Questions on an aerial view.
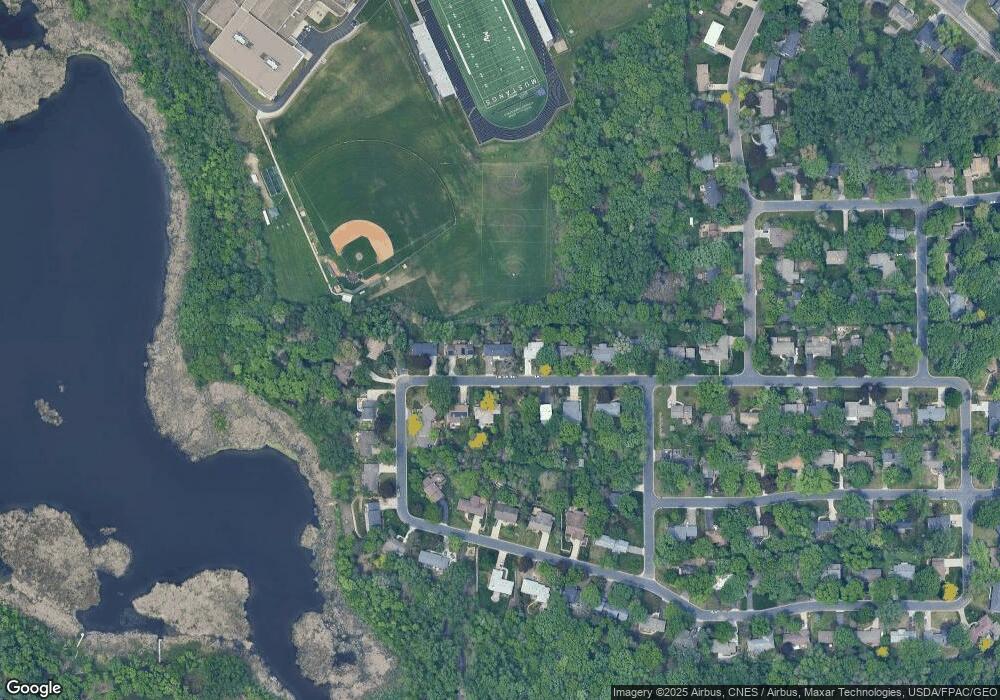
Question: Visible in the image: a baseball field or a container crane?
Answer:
baseball field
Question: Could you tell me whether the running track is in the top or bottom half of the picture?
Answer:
top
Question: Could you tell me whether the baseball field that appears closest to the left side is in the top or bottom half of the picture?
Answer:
top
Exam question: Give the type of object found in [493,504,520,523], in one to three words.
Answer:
house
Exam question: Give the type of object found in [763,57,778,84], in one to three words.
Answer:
house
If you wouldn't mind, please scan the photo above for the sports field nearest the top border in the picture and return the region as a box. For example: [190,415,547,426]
[428,0,549,128]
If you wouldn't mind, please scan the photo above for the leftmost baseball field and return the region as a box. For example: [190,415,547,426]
[292,141,456,296]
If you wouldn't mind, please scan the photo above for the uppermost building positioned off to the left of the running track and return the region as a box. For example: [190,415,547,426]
[198,0,347,100]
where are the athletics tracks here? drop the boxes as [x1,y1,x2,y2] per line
[411,0,571,145]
